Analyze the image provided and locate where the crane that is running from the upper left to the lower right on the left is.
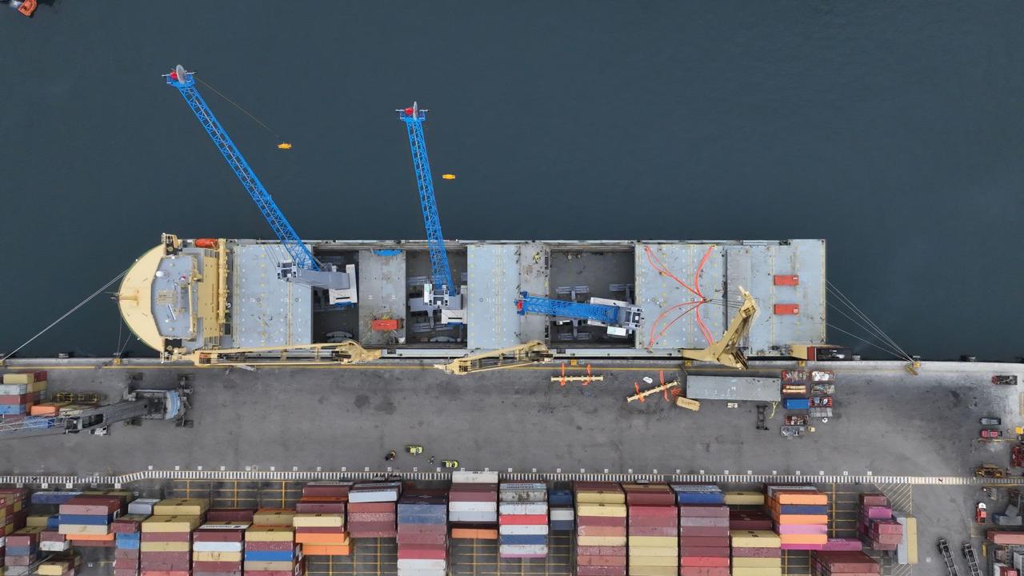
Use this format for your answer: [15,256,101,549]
[160,63,362,314]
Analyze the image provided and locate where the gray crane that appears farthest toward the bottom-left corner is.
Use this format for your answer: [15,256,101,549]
[0,373,194,446]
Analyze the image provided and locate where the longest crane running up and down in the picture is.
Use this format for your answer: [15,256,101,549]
[395,100,465,332]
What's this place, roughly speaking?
port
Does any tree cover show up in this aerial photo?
No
